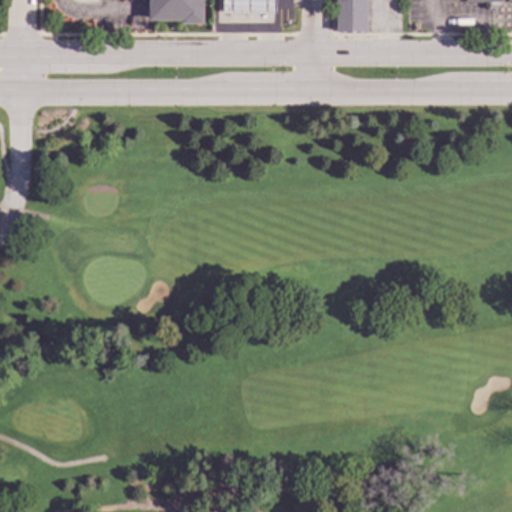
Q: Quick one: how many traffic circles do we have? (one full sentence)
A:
I count no traffic circles.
